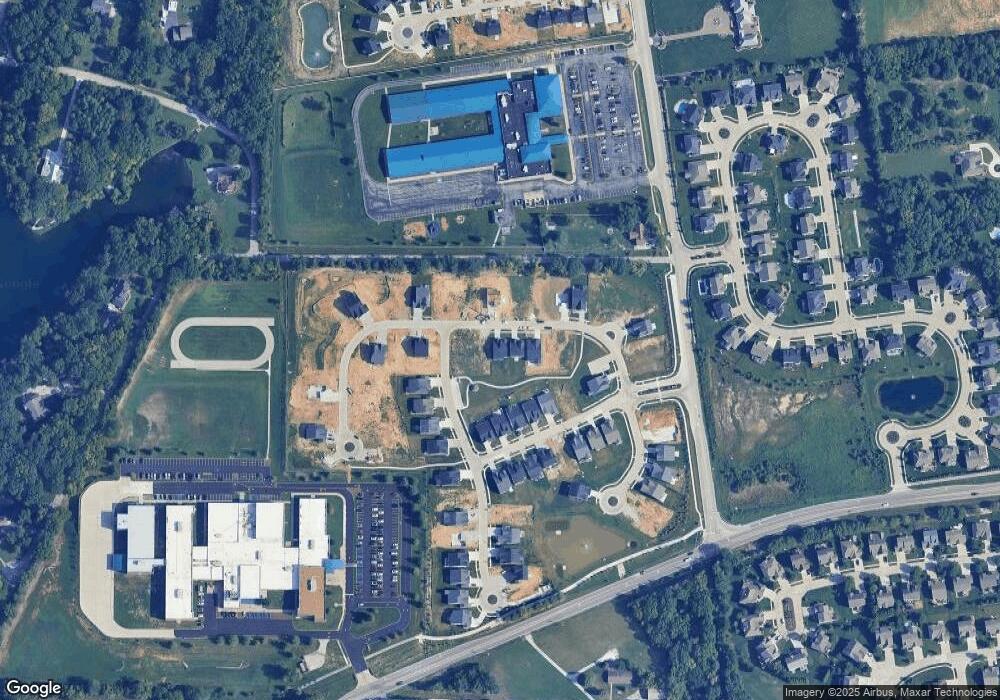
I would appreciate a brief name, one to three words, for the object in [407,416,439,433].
house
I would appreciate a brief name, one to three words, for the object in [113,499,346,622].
building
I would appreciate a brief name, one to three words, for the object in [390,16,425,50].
roundabout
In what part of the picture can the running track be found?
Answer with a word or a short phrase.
left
